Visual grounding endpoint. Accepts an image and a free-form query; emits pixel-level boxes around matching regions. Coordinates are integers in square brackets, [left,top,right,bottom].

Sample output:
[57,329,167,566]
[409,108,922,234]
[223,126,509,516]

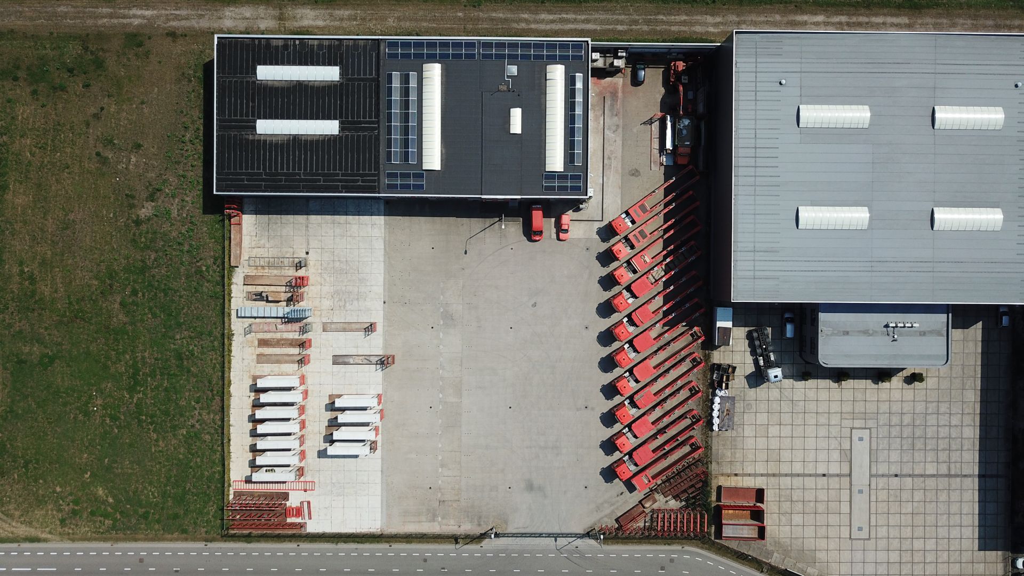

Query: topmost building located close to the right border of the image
[709,30,1024,305]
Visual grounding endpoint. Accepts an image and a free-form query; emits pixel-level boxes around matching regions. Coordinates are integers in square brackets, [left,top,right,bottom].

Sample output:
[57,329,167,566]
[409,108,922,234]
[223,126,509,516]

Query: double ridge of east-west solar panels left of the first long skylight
[386,72,416,163]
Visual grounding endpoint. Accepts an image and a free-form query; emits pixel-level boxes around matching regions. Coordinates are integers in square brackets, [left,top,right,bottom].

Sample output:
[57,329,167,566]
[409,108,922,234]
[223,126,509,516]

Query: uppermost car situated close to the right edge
[993,305,1009,328]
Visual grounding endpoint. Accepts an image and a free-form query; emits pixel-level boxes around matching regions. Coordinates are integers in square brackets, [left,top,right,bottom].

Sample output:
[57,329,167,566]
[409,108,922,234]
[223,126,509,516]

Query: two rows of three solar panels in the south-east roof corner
[543,172,582,191]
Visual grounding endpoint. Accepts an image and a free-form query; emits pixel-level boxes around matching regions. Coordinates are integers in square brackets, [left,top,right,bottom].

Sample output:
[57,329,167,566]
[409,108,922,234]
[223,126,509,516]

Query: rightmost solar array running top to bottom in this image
[569,73,583,164]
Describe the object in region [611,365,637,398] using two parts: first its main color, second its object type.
red truck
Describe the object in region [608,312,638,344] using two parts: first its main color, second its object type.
red truck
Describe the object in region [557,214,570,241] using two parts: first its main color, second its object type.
red vehicle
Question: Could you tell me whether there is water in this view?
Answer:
No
